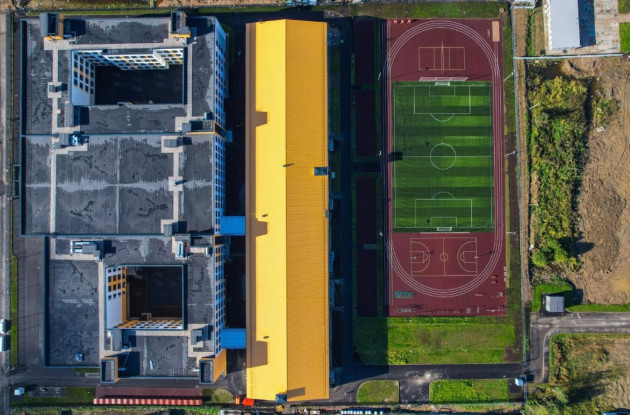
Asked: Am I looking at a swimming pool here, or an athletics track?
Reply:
athletics track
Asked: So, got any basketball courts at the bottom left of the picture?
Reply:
No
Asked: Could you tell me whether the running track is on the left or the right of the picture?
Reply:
right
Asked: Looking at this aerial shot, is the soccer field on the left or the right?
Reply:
right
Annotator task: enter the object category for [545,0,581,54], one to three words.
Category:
building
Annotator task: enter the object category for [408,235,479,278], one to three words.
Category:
basketball court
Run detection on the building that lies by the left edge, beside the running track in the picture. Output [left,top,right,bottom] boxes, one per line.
[13,11,233,384]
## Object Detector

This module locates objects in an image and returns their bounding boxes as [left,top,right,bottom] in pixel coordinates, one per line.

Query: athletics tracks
[380,18,507,317]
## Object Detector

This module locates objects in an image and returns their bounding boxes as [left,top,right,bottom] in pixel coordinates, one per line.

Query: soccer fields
[392,81,494,232]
